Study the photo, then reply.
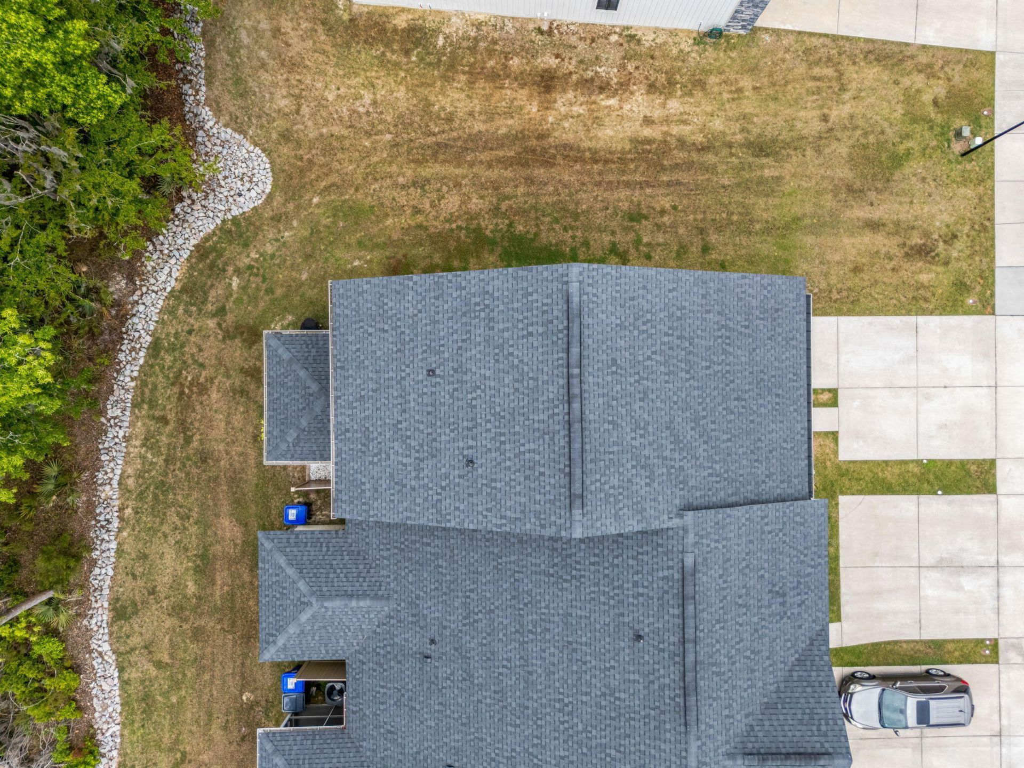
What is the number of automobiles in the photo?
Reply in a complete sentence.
The picture shows just 1 automobile.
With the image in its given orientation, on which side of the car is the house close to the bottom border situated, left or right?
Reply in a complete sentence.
Compared with the car, the house close to the bottom border is located further to the left.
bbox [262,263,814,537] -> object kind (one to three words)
house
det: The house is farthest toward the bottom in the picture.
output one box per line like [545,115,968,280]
[256,498,855,768]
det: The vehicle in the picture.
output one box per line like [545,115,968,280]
[841,669,977,741]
